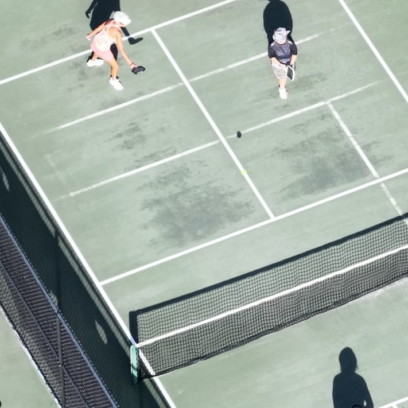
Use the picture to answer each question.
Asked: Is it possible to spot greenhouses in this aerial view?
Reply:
No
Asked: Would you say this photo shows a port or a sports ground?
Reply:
sports ground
